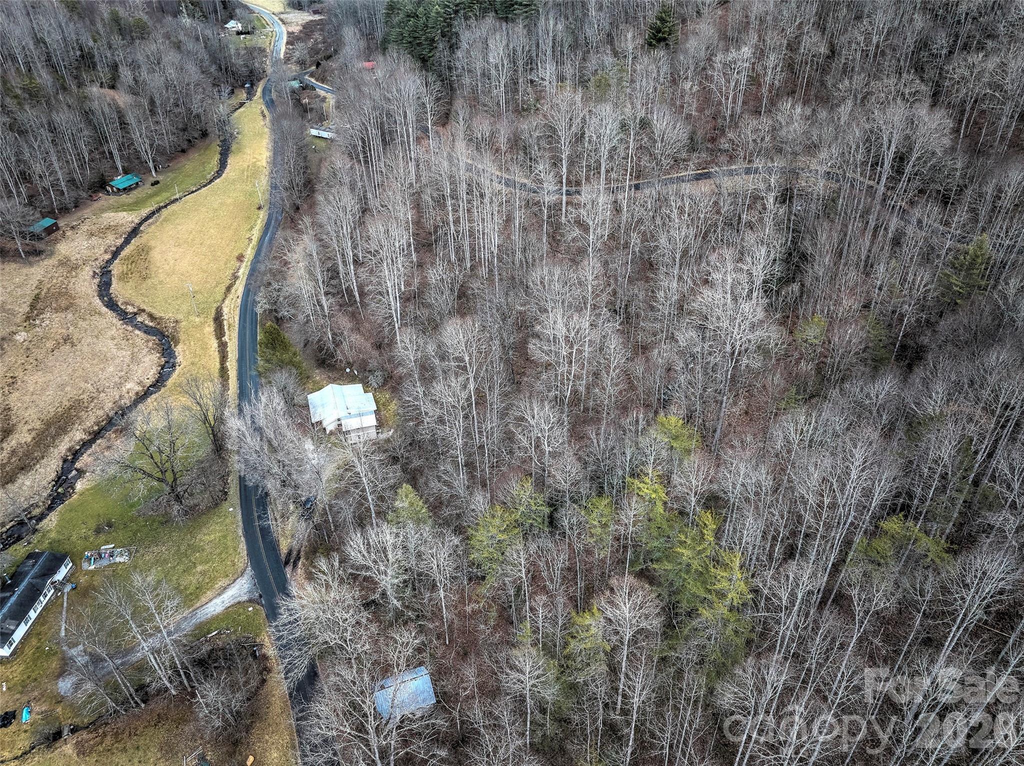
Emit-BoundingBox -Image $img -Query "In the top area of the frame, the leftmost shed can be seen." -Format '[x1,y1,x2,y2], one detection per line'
[29,219,60,240]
